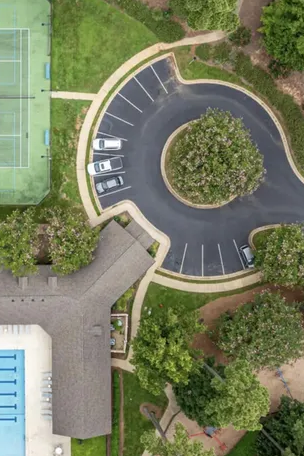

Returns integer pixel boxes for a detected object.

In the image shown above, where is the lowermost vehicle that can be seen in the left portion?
[96,175,125,193]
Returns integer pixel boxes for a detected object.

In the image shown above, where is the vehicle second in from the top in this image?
[87,155,124,174]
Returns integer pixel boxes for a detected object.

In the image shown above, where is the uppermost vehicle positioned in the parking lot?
[93,137,122,151]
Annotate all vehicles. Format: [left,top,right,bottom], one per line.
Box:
[96,175,125,193]
[239,243,257,270]
[93,137,122,151]
[87,155,124,174]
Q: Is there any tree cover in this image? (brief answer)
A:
Yes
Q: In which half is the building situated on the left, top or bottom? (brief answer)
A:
bottom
